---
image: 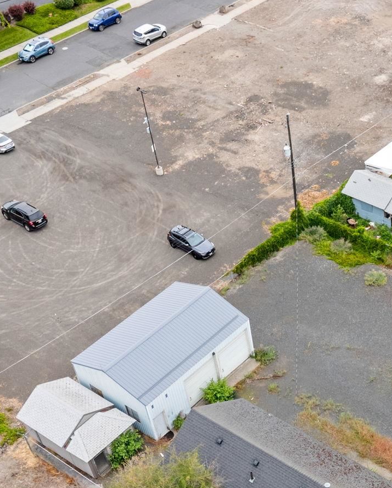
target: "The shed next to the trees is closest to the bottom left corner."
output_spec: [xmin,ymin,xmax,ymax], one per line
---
[16,377,139,484]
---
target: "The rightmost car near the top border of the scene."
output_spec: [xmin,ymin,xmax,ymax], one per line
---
[130,23,169,45]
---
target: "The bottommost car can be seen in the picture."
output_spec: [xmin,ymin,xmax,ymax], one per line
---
[163,221,219,259]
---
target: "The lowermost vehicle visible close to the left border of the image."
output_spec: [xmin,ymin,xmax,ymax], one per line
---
[0,200,49,231]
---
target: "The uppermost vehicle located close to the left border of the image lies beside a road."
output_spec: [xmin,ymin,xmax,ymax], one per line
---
[13,35,56,63]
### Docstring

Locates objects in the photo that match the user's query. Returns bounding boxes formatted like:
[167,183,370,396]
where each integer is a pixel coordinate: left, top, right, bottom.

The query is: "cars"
[83,5,123,31]
[13,35,56,63]
[130,23,169,45]
[0,133,15,153]
[163,221,219,259]
[0,200,49,231]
